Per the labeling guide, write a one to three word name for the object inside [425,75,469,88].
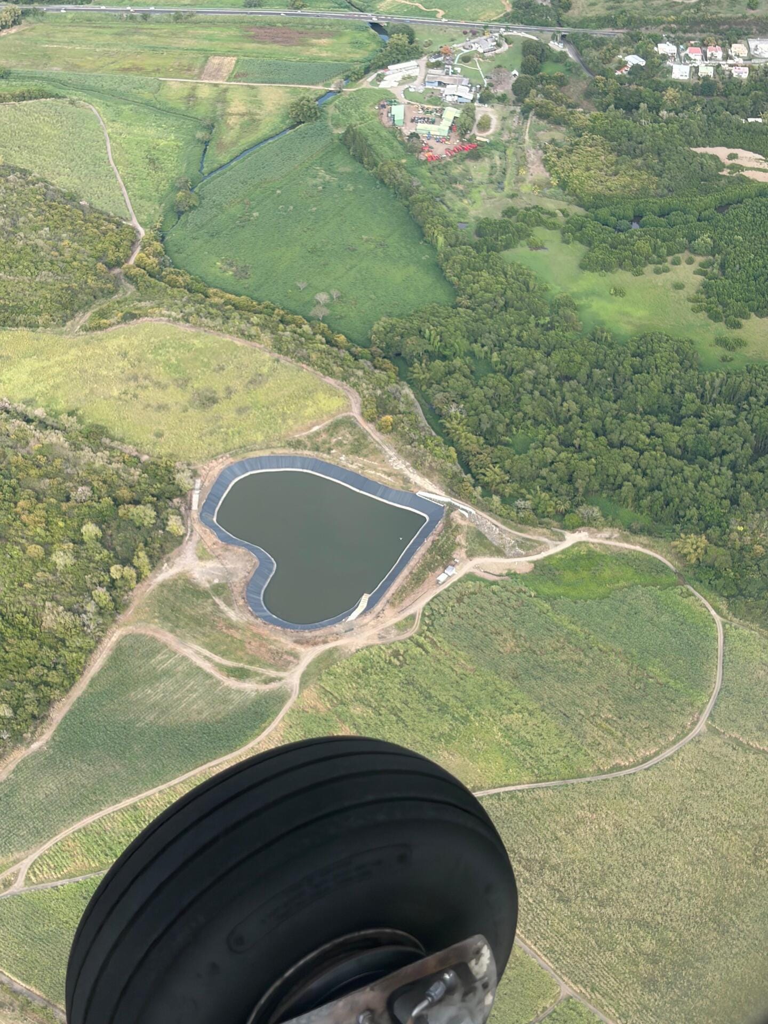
building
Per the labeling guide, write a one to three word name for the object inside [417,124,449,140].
shed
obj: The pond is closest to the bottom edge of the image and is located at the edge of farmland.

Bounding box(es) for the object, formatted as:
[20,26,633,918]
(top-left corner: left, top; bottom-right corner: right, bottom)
[198,455,447,631]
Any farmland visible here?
Yes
